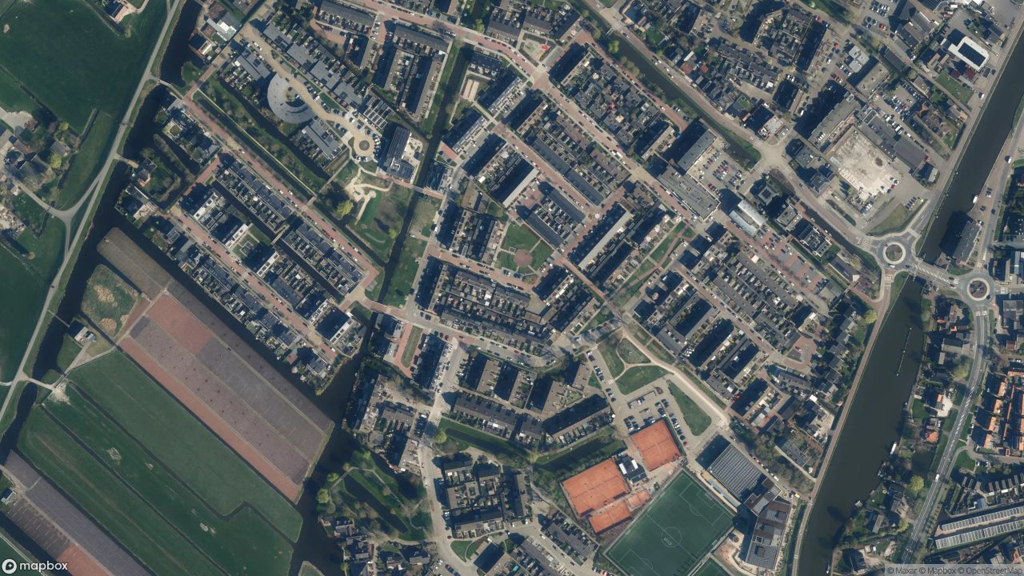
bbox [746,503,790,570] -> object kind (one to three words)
building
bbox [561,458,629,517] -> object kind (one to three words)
tennis court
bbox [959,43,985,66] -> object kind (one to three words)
solar panel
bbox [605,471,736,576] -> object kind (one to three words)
soccer field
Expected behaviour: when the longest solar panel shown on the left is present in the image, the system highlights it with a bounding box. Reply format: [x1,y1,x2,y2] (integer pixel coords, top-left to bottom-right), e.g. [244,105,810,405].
[390,128,409,157]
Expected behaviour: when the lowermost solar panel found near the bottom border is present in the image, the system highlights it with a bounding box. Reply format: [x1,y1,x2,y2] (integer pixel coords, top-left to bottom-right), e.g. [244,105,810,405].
[747,546,776,568]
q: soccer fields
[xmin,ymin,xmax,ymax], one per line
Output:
[605,471,736,576]
[692,557,731,576]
